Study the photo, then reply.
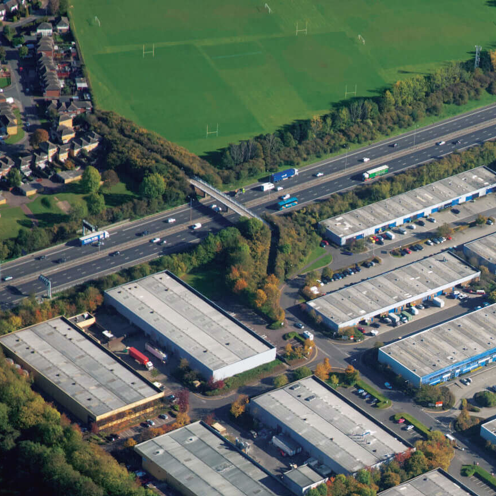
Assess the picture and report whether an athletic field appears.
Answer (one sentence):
Yes, the picture does show an athletic field.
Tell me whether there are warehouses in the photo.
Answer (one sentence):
Yes, the picture does show a warehouse.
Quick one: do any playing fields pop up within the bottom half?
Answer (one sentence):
No, no playing field is visible within the bottom half.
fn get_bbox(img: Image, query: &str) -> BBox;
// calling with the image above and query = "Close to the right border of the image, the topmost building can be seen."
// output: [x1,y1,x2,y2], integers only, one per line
[319,166,496,246]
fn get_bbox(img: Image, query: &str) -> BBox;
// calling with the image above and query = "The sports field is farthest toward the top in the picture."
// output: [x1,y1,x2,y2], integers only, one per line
[89,0,282,48]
